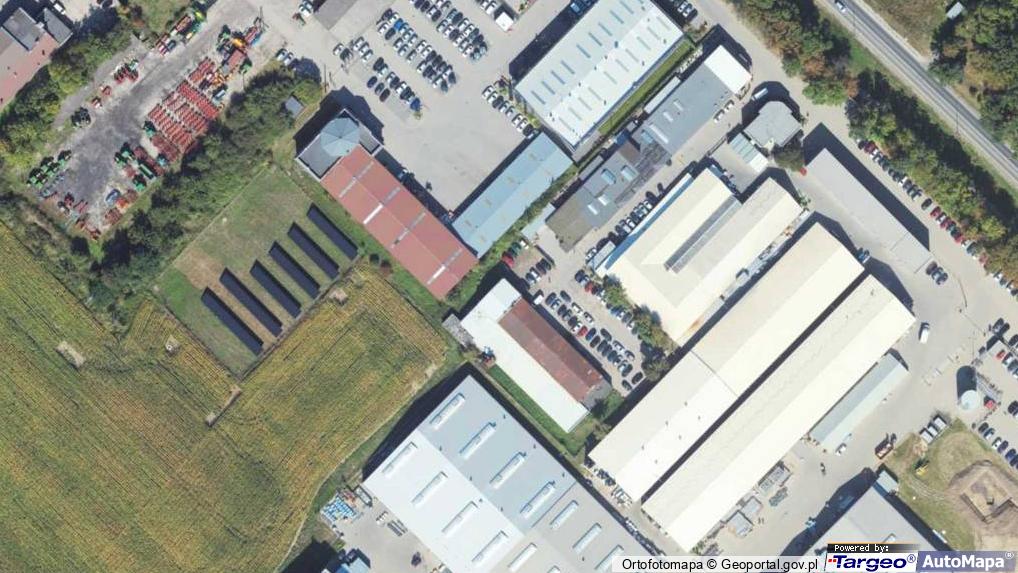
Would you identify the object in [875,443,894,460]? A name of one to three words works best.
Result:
vehicle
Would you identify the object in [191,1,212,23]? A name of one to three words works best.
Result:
work vehicle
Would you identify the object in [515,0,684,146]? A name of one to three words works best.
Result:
warehouse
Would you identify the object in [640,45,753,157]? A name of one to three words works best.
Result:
building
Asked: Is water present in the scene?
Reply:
No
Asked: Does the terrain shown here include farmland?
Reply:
Yes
